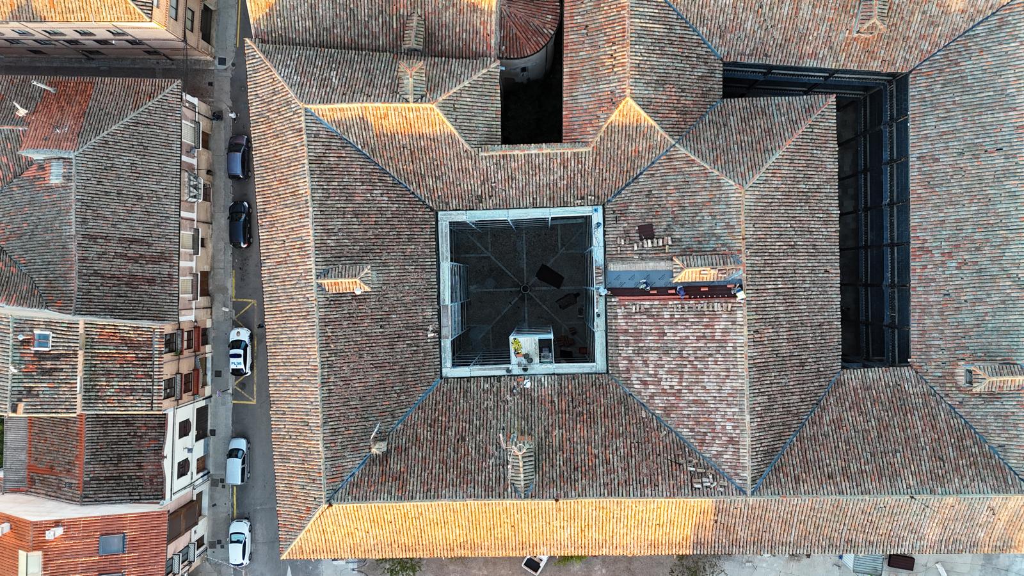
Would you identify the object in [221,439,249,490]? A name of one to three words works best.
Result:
van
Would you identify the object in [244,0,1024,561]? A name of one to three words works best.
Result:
building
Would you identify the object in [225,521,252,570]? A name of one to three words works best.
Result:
car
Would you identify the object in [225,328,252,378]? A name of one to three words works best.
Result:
car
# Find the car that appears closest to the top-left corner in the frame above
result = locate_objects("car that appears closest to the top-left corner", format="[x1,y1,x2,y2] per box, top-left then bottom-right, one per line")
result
[224,135,250,181]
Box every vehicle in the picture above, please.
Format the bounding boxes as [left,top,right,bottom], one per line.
[225,521,252,570]
[224,135,250,181]
[515,557,550,576]
[225,328,252,378]
[221,439,249,490]
[226,200,252,248]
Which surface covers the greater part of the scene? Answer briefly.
buildings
